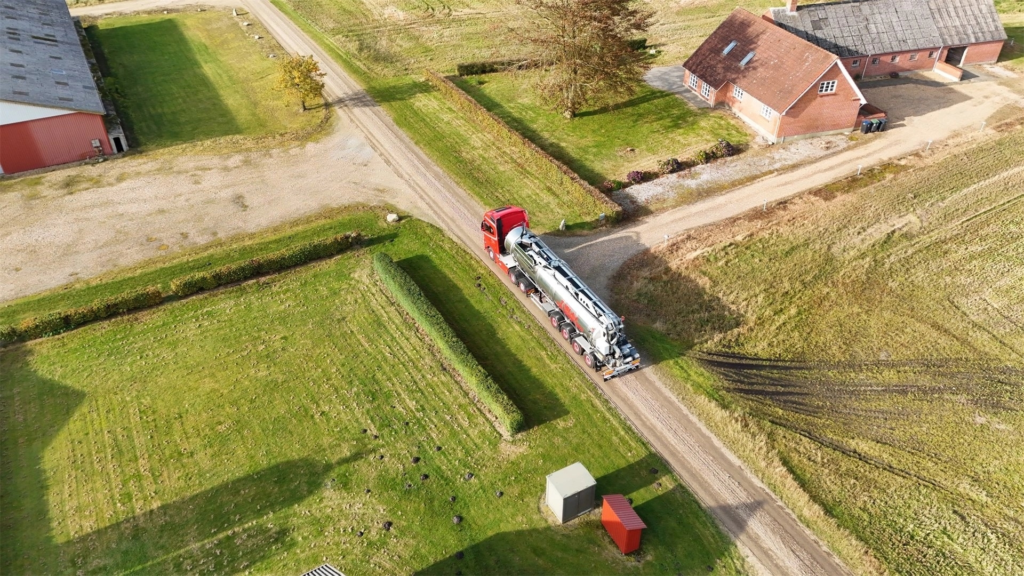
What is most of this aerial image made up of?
grass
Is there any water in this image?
No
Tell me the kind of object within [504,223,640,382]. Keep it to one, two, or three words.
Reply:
trailer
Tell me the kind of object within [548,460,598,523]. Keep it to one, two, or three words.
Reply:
shed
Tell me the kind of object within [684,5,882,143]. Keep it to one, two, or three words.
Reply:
house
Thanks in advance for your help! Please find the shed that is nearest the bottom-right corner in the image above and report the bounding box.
[602,494,645,554]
